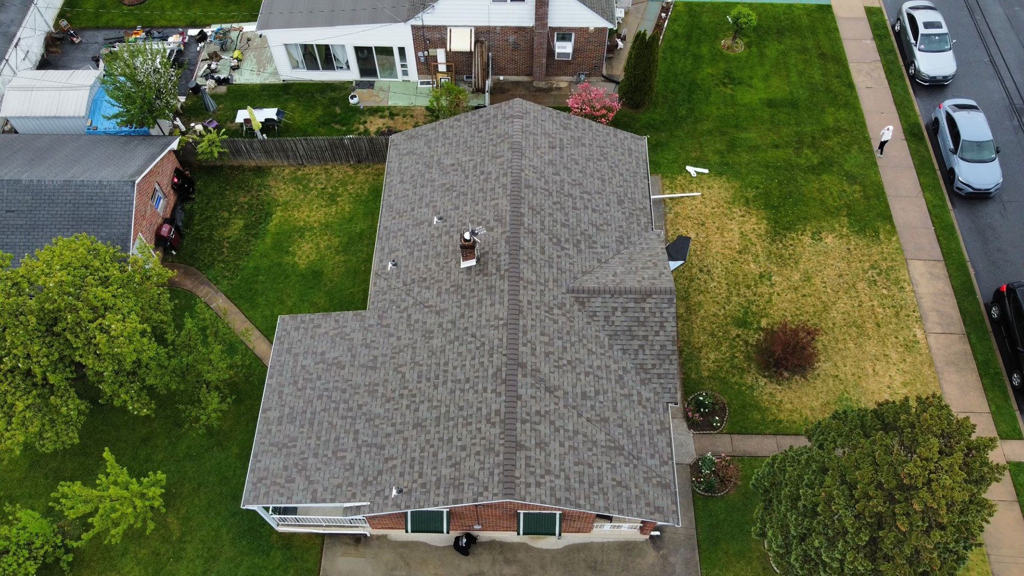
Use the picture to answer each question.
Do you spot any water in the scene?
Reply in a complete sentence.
No, water can't be seen anywhere here.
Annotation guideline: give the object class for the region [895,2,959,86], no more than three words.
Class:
car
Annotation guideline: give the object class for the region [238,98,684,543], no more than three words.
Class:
house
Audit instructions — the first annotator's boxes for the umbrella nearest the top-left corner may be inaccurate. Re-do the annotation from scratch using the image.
[201,85,221,114]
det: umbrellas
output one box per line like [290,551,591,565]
[201,85,221,114]
[247,105,265,139]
